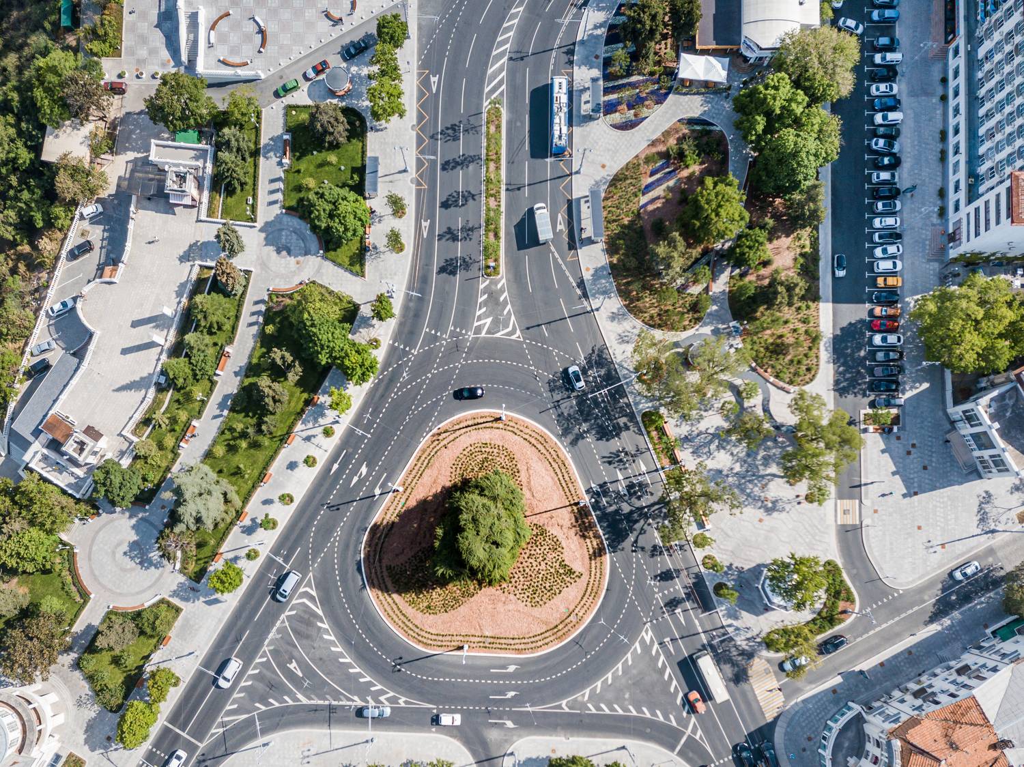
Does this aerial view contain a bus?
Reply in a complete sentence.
Yes, a bus can be made out from above.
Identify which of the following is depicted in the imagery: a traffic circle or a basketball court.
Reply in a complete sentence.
Visible in the photo is a traffic circle.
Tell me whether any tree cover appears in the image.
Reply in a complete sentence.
Yes, there's tree cover in this view.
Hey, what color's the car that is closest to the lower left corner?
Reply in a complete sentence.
The car that is closest to the lower left corner is white.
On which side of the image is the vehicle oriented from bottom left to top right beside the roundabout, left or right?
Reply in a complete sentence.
It is on the left.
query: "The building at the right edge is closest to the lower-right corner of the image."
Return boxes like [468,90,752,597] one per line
[816,610,1024,767]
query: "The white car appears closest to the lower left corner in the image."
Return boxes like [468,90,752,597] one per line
[165,743,187,767]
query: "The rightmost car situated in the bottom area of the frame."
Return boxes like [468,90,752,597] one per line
[952,561,982,581]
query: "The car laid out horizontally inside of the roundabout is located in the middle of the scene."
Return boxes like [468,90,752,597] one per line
[455,387,484,400]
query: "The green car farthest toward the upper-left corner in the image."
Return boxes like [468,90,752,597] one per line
[276,78,302,97]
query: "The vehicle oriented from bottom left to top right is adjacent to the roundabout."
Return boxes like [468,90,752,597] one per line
[274,569,301,602]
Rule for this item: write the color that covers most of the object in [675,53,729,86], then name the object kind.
white tent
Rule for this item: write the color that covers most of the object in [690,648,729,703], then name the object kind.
white bus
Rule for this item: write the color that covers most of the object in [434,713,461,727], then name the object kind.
white car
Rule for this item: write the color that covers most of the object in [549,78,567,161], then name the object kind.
white vehicle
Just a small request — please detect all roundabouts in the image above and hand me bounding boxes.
[315,343,648,707]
